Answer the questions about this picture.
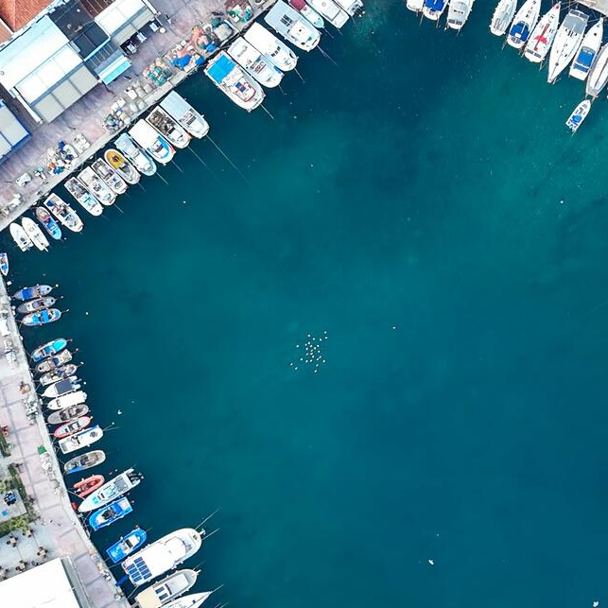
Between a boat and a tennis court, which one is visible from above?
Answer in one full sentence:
The one in the frame is a boat.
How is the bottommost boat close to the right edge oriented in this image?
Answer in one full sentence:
In this picture, the bottommost boat close to the right edge is oriented diagonally.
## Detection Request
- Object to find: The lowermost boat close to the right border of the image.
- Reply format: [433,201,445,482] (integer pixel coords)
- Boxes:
[565,100,589,132]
